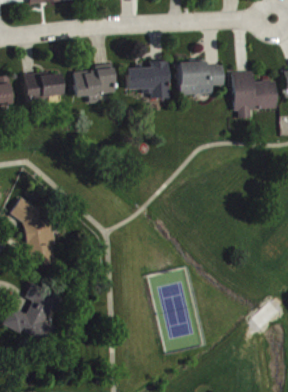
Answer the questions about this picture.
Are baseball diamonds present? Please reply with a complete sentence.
No, no baseball diamond is visible in the view.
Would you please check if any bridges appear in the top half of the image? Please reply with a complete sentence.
No, there's no bridge to be seen in the top half of the image.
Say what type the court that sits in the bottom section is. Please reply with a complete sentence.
Looking closely, the court that sits in the bottom section is a tennis court.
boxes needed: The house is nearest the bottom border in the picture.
[0,289,50,336]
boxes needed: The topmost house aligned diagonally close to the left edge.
[5,194,55,263]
